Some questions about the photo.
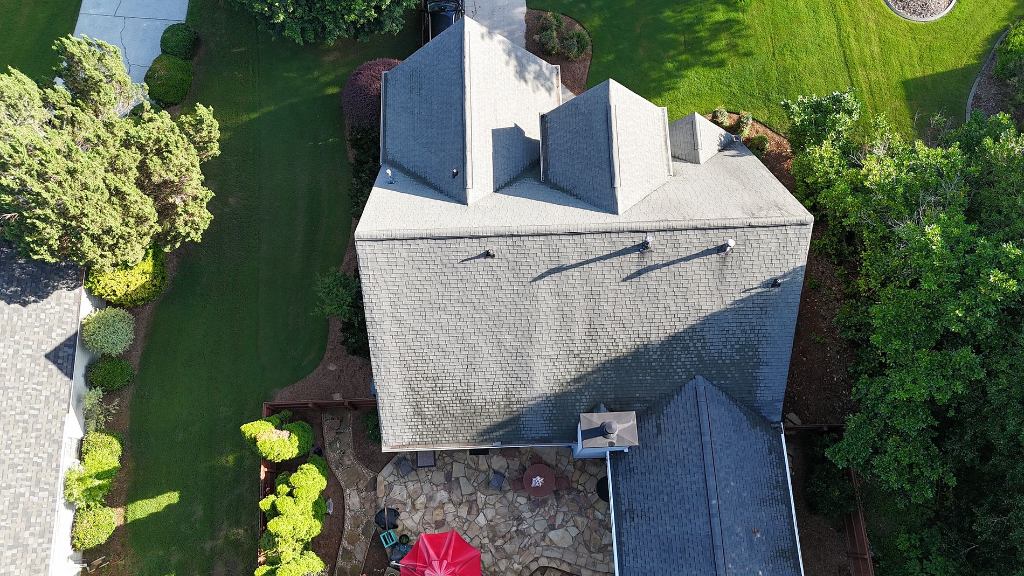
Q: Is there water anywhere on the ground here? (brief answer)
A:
No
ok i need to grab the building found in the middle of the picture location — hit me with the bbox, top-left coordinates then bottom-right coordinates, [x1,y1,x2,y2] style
[355,17,815,576]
